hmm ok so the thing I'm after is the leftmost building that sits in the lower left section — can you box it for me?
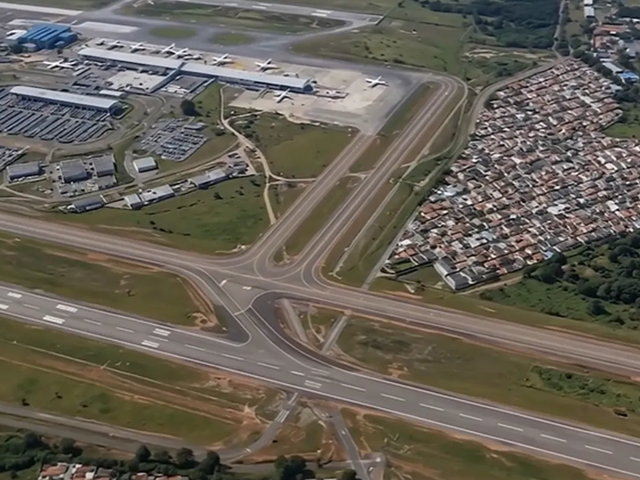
[41,462,67,480]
